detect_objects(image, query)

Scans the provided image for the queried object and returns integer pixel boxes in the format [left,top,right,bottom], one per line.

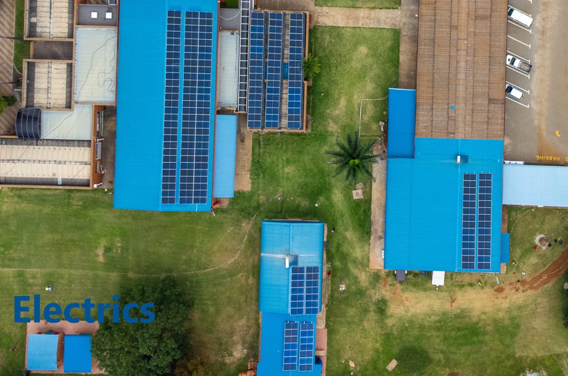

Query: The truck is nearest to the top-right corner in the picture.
[509,7,536,30]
